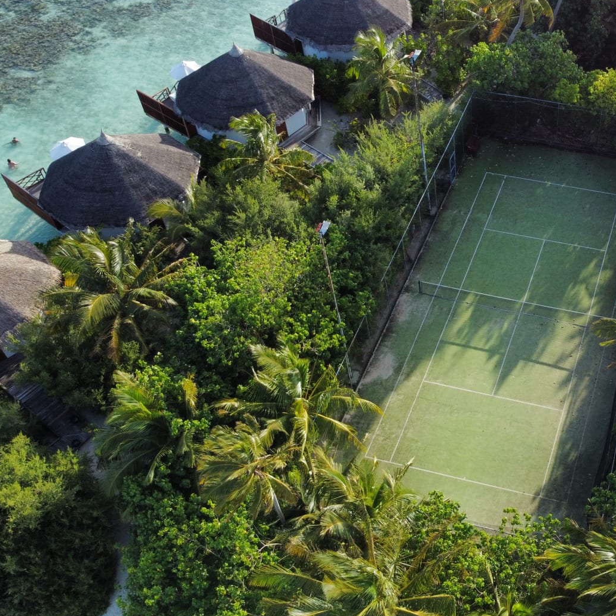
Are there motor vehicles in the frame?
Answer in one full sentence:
No, the photo shows no motor vehicle.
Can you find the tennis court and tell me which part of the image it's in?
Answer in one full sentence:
Look in the right portion of the view to spot the tennis court.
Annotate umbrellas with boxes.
[49,137,86,160]
[169,59,202,80]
